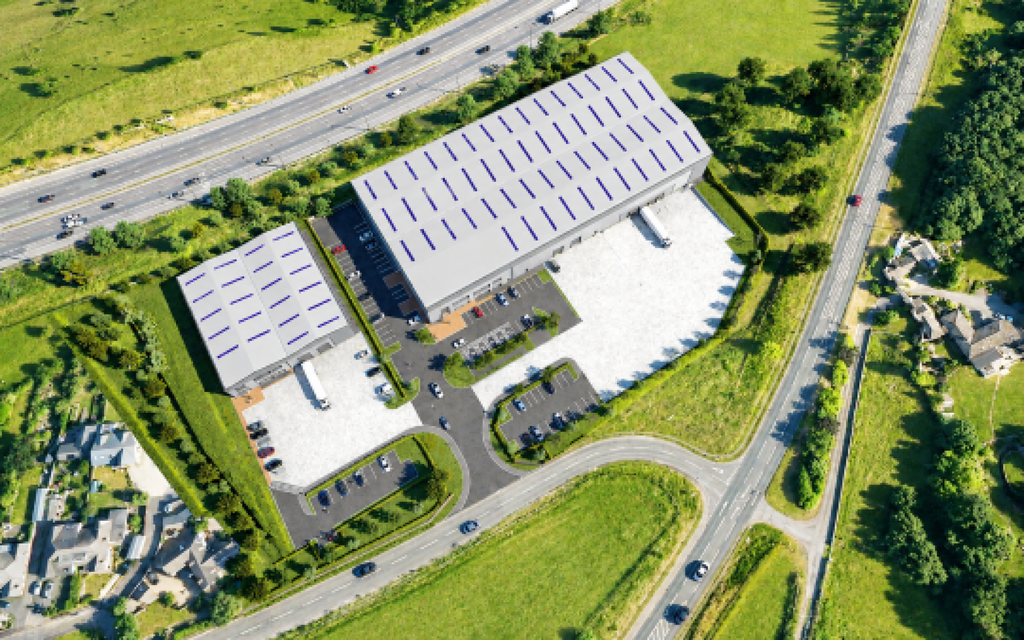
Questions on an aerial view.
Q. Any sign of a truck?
Yes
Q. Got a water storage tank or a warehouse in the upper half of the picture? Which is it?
warehouse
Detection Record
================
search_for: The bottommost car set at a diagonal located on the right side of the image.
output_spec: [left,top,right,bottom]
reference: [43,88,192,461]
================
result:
[670,601,690,627]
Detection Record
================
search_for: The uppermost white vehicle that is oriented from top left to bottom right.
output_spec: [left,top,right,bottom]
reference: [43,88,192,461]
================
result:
[640,200,674,248]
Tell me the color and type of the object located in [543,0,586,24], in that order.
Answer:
white truck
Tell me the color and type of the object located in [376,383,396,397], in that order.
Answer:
white car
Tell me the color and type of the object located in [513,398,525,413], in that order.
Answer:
blue vehicle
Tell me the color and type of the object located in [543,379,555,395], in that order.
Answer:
black vehicle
